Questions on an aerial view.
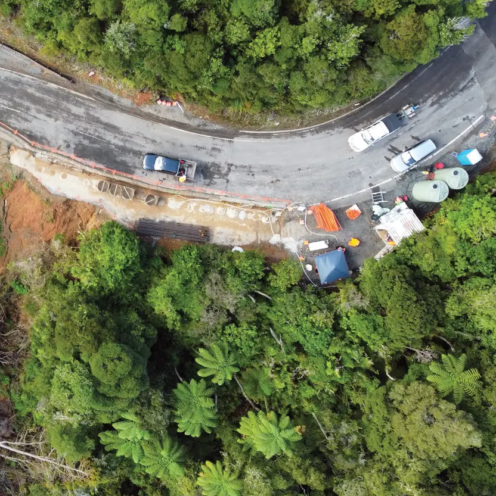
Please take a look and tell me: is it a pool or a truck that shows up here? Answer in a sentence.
Of the two, only a truck appears.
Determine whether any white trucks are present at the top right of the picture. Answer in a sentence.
Yes, a white truck can be seen at the top right of the picture.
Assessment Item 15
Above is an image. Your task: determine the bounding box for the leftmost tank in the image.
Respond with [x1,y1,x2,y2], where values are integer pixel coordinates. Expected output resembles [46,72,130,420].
[411,178,447,201]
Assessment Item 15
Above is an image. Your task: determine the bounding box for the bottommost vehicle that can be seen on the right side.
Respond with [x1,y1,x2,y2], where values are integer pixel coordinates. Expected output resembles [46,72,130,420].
[387,136,439,175]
